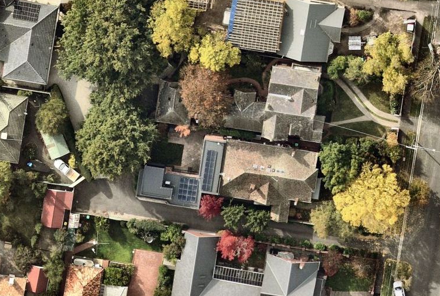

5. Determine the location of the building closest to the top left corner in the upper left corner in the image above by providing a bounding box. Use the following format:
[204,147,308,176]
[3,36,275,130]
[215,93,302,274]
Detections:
[0,0,61,86]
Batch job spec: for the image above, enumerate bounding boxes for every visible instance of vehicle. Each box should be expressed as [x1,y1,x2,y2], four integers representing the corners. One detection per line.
[53,156,79,184]
[392,279,405,296]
